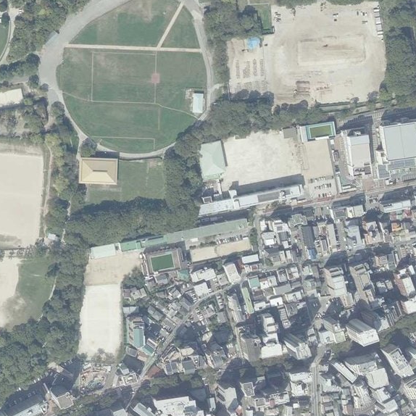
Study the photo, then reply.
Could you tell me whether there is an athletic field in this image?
Yes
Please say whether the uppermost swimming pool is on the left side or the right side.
right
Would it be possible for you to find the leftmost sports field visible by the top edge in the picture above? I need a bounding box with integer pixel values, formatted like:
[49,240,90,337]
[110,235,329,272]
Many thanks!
[57,0,208,153]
